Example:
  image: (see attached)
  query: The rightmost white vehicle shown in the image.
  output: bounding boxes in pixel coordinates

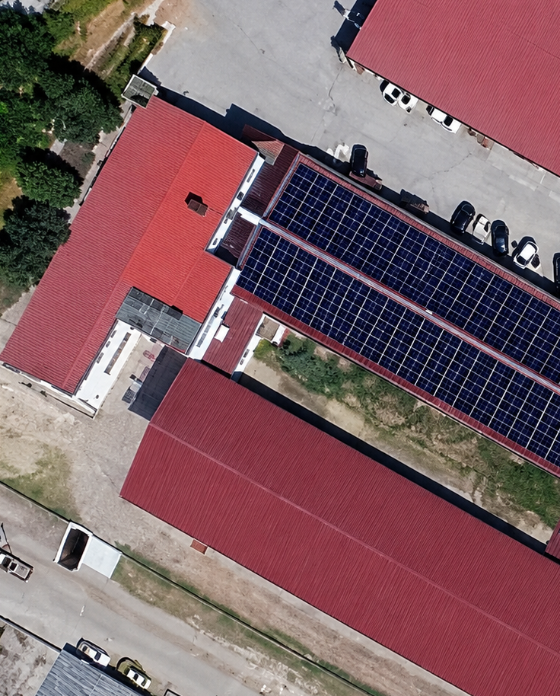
[514,236,538,271]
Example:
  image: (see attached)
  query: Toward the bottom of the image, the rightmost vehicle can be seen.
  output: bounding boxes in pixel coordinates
[118,660,154,689]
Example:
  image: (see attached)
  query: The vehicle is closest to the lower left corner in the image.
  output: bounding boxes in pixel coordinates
[75,639,113,668]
